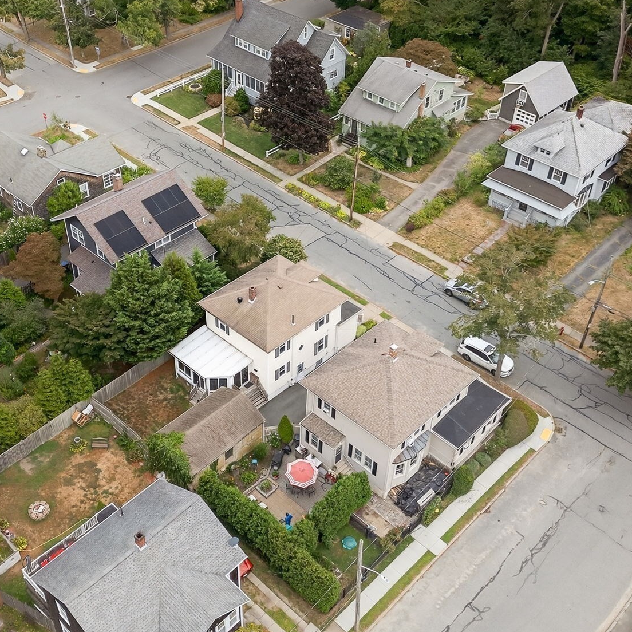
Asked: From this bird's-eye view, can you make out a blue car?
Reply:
No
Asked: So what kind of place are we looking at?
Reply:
residential area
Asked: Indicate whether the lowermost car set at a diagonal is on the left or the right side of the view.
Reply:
right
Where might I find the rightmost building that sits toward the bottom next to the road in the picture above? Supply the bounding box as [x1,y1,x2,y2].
[298,318,513,490]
